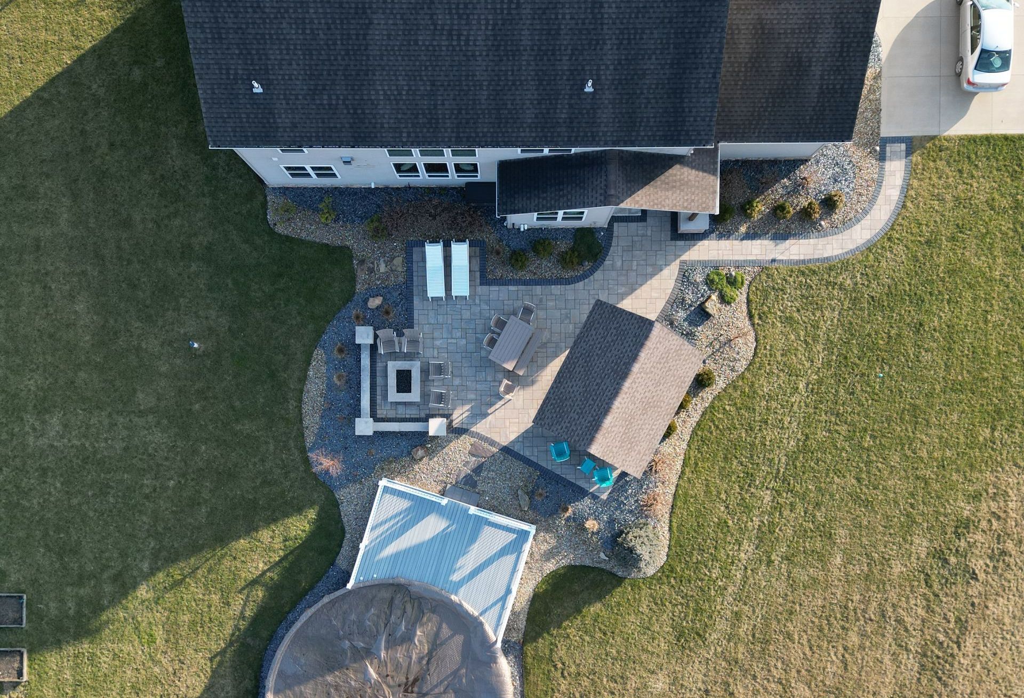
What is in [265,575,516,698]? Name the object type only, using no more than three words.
swimming pool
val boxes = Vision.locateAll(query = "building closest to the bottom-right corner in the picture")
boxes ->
[531,299,705,480]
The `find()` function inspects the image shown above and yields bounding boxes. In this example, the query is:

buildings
[531,299,705,480]
[183,0,881,233]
